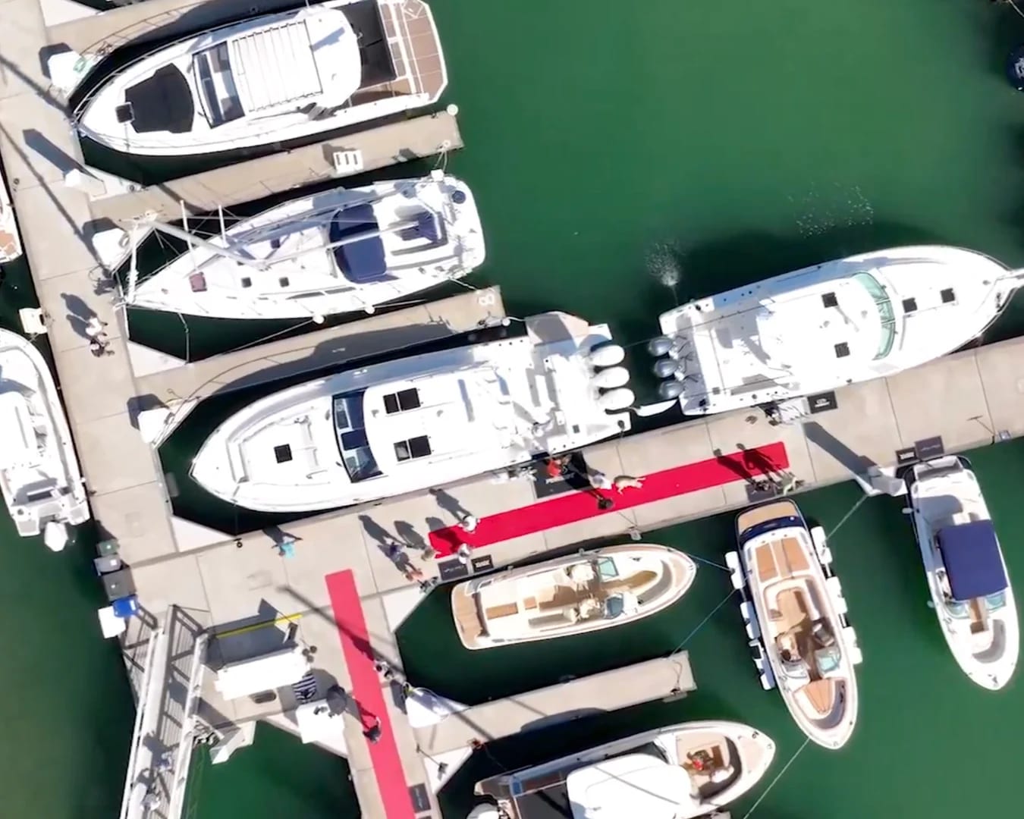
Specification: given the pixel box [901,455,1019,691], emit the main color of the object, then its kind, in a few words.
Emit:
white boat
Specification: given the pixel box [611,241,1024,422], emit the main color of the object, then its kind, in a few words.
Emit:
white boat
